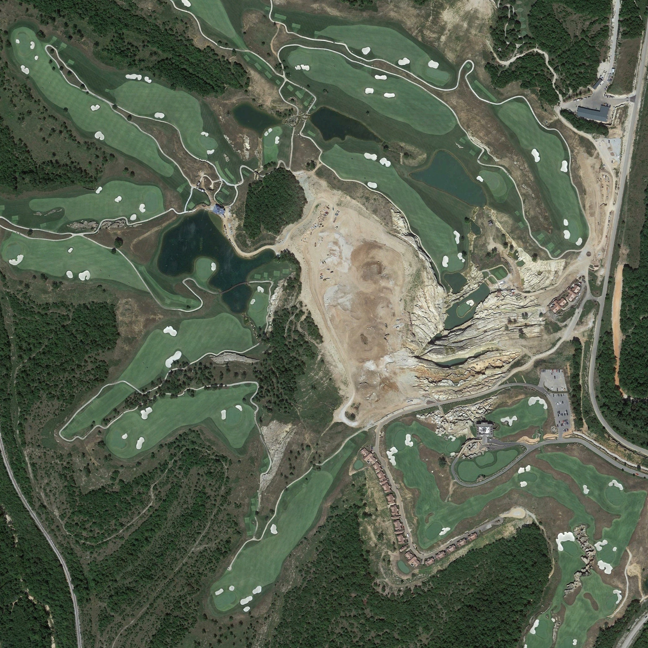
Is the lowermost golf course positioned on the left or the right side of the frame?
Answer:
right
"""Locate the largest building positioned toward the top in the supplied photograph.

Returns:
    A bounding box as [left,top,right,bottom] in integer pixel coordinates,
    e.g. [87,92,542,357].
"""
[577,101,610,121]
